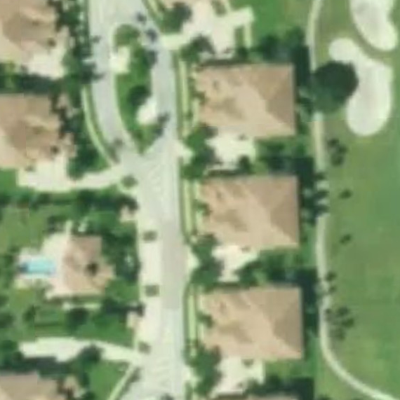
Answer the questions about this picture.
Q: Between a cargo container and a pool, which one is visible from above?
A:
pool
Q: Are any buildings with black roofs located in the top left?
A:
No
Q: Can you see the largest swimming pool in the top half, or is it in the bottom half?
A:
bottom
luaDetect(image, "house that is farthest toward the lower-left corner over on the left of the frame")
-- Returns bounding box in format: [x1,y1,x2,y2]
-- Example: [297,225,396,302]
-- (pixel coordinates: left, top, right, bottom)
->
[0,377,54,400]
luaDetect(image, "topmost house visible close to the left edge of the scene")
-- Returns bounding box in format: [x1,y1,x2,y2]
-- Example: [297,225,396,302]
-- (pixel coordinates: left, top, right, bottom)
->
[0,0,60,59]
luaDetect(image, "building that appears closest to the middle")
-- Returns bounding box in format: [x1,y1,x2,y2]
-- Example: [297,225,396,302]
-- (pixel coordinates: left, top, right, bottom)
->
[201,176,300,249]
